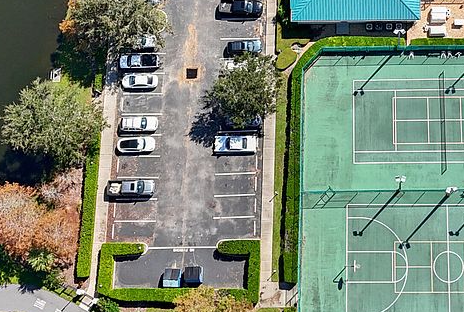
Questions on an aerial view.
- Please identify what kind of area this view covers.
sports ground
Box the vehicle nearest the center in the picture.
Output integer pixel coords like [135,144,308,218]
[214,134,260,153]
